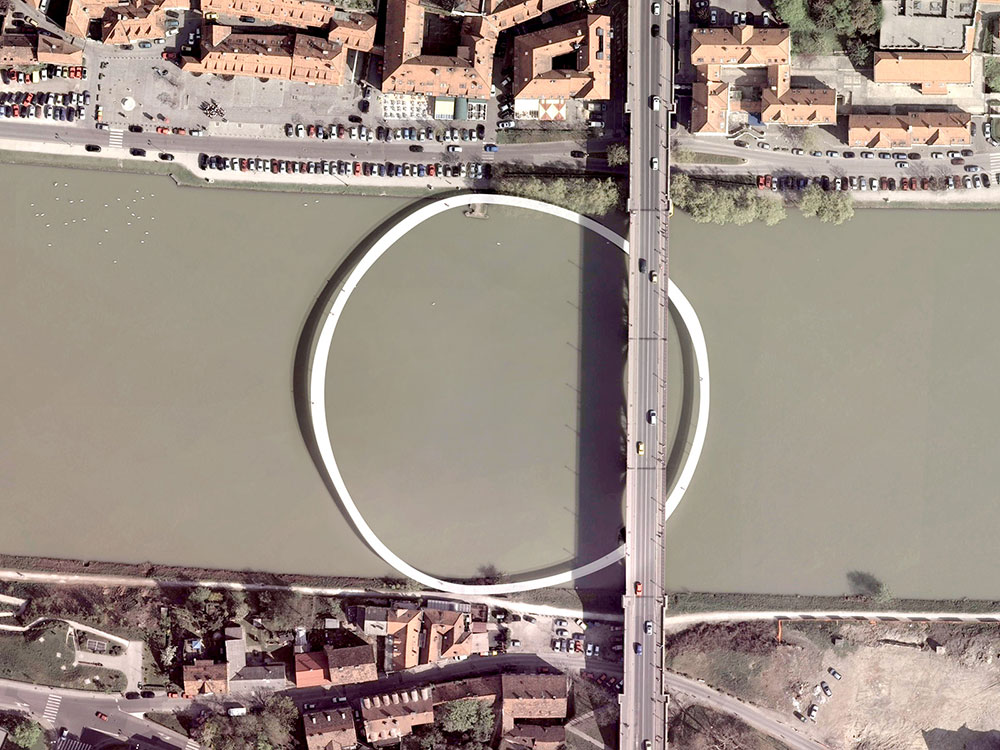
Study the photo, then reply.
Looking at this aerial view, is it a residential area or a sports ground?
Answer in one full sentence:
The picture captures a residential area.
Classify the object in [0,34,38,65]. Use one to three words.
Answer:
house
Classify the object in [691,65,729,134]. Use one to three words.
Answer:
house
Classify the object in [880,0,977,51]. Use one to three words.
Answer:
building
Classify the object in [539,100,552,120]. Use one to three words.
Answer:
umbrella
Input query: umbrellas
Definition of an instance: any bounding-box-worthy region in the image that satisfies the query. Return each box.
[553,100,565,120]
[539,100,552,120]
